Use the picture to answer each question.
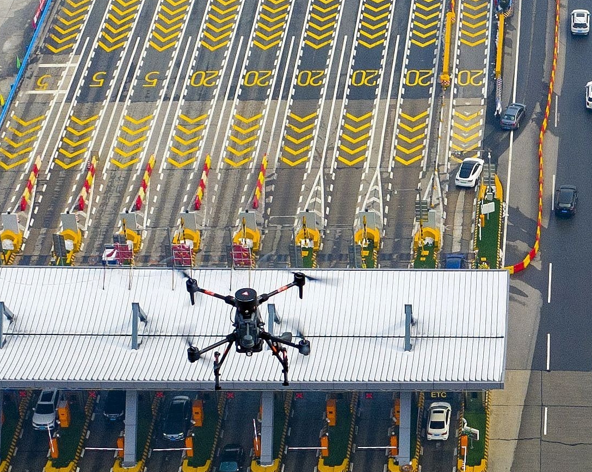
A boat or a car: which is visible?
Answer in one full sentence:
The image shows a car.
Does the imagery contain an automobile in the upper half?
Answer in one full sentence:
Yes, you'll find an automobile in the upper half.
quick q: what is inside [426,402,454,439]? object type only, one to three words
car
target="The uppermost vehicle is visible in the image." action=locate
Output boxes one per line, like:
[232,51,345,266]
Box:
[570,12,591,35]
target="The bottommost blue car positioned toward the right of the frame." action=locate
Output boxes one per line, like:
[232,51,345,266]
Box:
[444,248,468,268]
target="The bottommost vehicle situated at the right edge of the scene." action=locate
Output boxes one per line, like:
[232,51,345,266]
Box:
[555,188,578,216]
